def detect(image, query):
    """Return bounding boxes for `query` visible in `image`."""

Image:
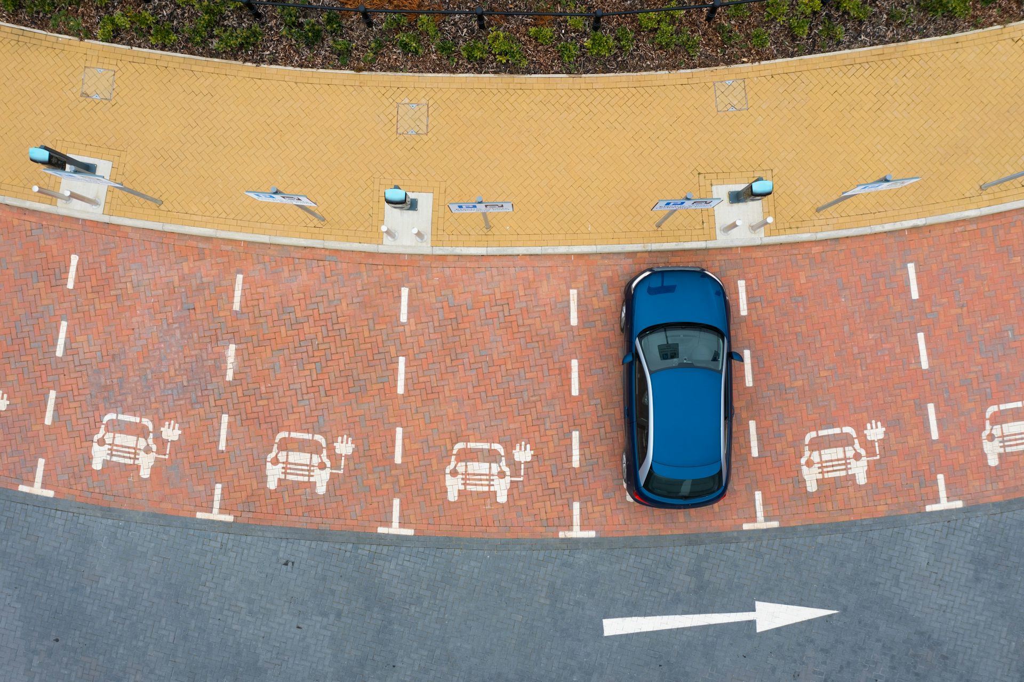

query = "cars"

[619,266,743,510]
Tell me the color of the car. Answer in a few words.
blue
